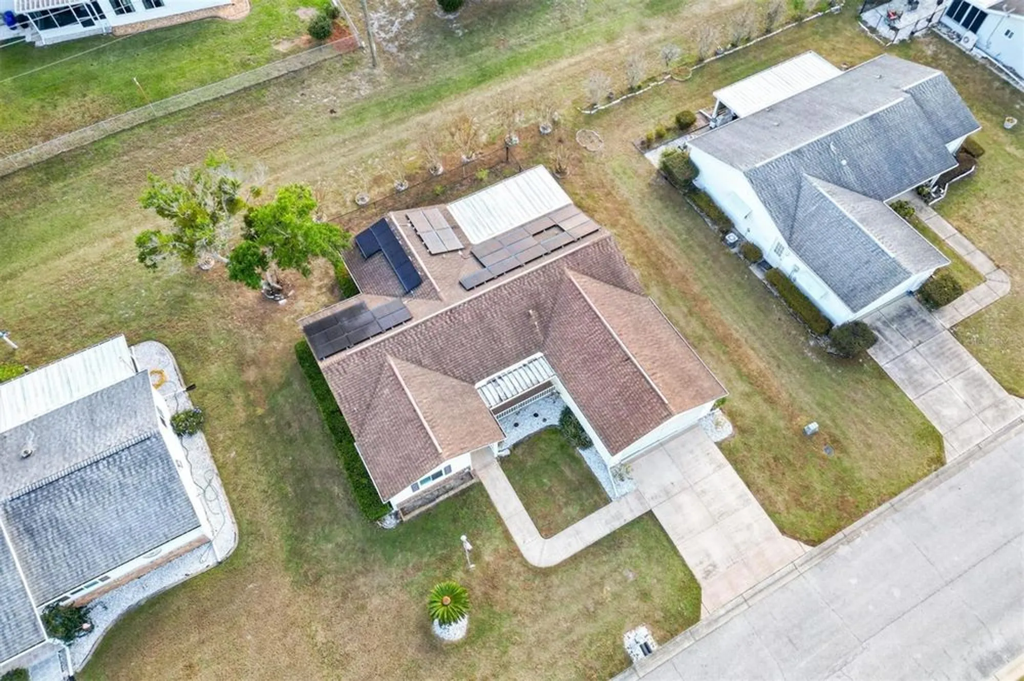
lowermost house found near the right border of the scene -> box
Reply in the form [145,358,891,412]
[689,51,983,324]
